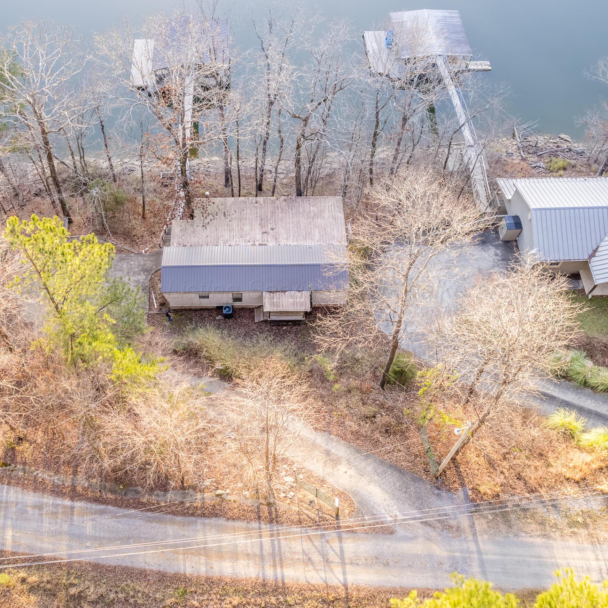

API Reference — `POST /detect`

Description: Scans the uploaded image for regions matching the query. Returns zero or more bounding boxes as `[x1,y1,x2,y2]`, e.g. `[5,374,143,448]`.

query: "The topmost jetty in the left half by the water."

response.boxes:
[133,12,232,104]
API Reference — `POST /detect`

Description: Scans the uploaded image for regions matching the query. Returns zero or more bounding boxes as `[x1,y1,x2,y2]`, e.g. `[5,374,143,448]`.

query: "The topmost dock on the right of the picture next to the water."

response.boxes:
[365,9,470,92]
